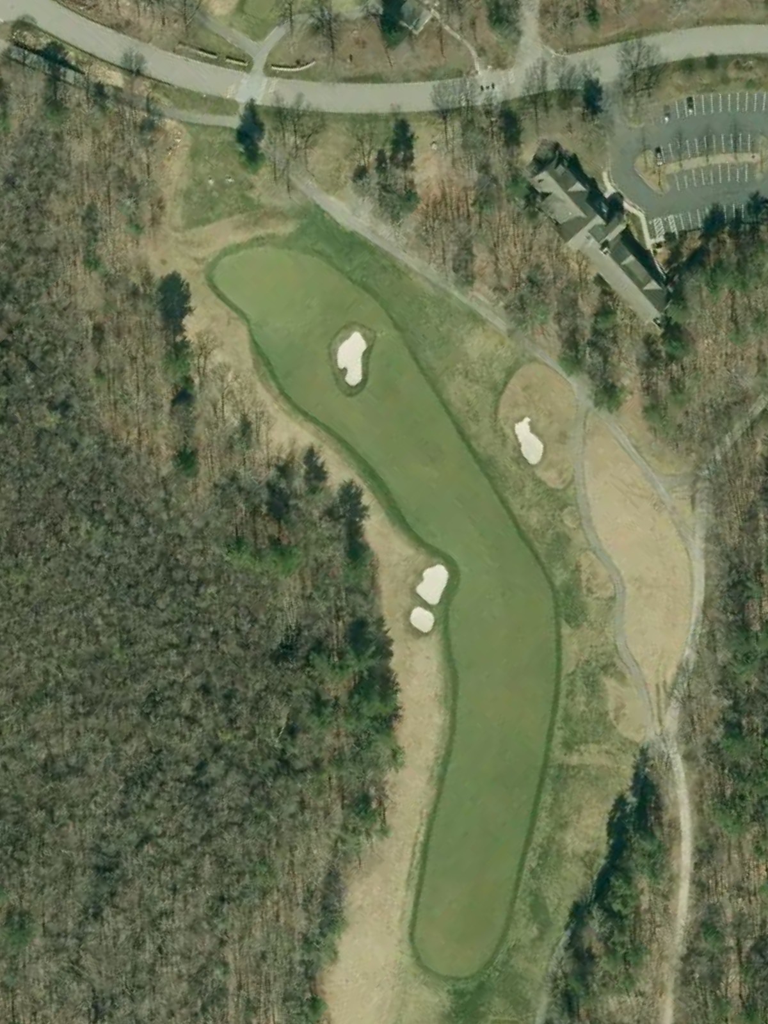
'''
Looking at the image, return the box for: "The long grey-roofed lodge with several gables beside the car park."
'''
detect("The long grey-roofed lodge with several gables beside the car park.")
[533,161,672,334]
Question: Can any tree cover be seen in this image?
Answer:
Yes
